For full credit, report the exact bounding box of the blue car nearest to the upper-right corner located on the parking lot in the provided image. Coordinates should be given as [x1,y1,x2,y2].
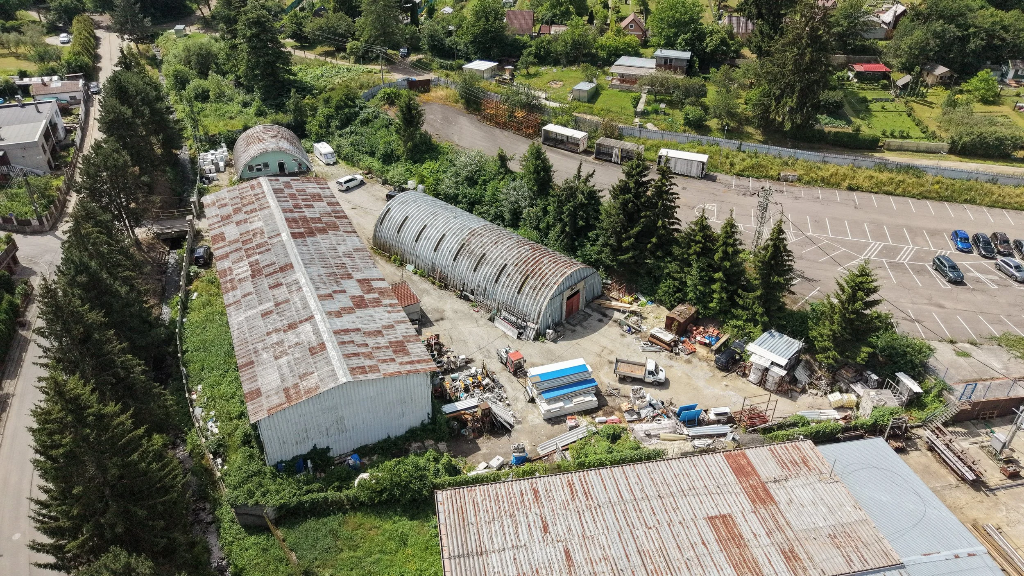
[949,226,974,248]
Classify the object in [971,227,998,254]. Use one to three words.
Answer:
car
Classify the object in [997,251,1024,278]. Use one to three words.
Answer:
car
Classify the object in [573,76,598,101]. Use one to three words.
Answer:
shed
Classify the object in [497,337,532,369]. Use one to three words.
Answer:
vehicle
